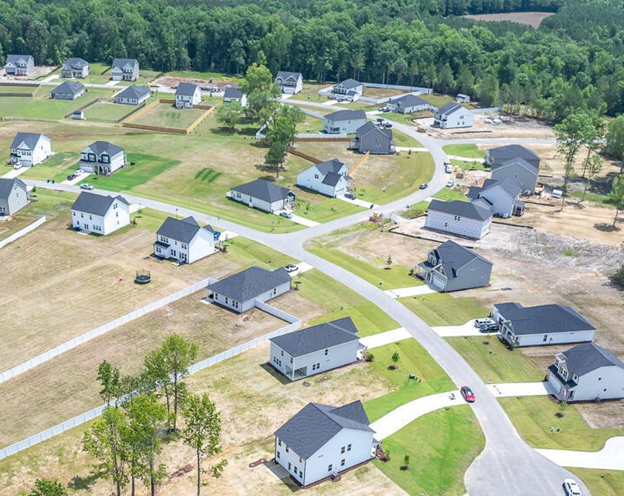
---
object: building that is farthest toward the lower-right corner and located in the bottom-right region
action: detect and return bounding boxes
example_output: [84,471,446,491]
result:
[545,340,624,406]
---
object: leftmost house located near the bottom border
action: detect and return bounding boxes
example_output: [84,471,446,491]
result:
[273,398,381,490]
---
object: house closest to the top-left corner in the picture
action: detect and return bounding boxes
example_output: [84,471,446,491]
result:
[4,49,33,76]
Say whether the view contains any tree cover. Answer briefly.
Yes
